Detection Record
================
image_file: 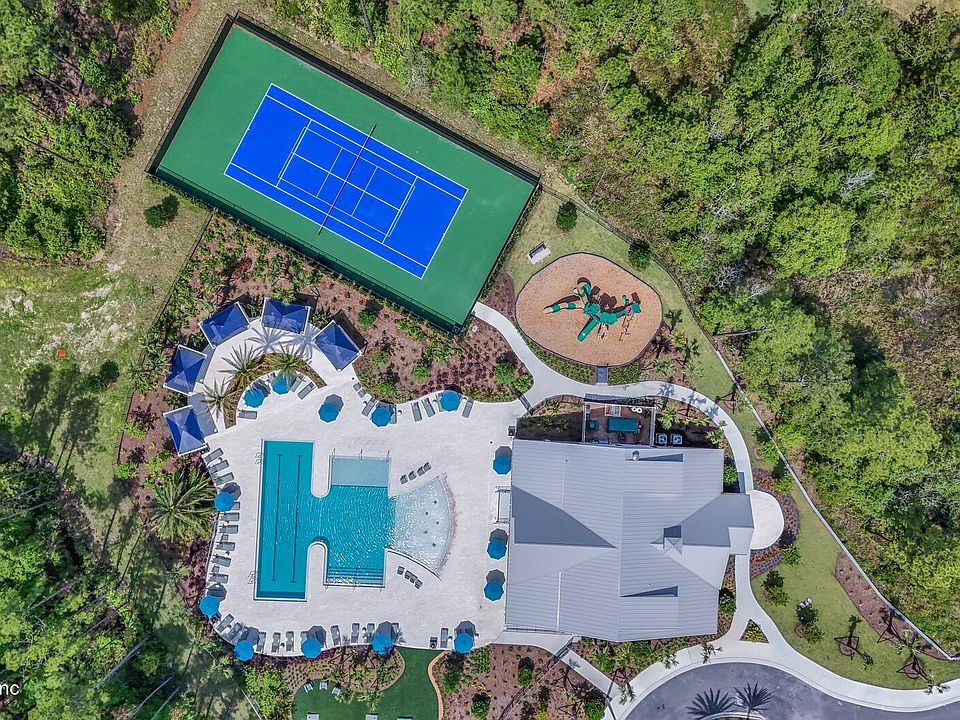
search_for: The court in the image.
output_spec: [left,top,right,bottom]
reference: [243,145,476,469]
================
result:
[157,25,535,334]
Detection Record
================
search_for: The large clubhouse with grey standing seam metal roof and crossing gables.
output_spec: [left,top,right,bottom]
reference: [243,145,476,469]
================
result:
[503,439,754,640]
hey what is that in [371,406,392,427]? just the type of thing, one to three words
umbrella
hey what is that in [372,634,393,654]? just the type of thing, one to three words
umbrella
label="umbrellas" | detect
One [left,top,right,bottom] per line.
[484,580,503,600]
[214,490,235,511]
[371,406,392,427]
[372,634,393,654]
[454,632,474,652]
[487,538,507,559]
[440,390,459,410]
[492,455,512,474]
[201,595,220,615]
[245,386,266,407]
[301,638,322,658]
[319,402,339,423]
[234,640,255,661]
[273,373,292,393]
